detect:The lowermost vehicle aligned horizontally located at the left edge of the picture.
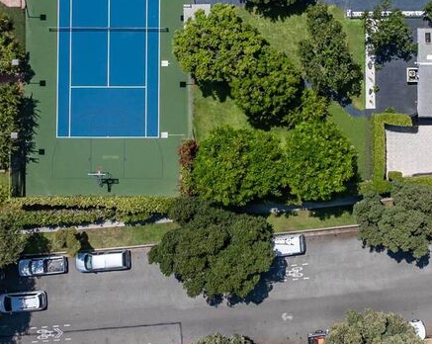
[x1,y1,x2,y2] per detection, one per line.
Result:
[1,289,50,314]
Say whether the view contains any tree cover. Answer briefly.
Yes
